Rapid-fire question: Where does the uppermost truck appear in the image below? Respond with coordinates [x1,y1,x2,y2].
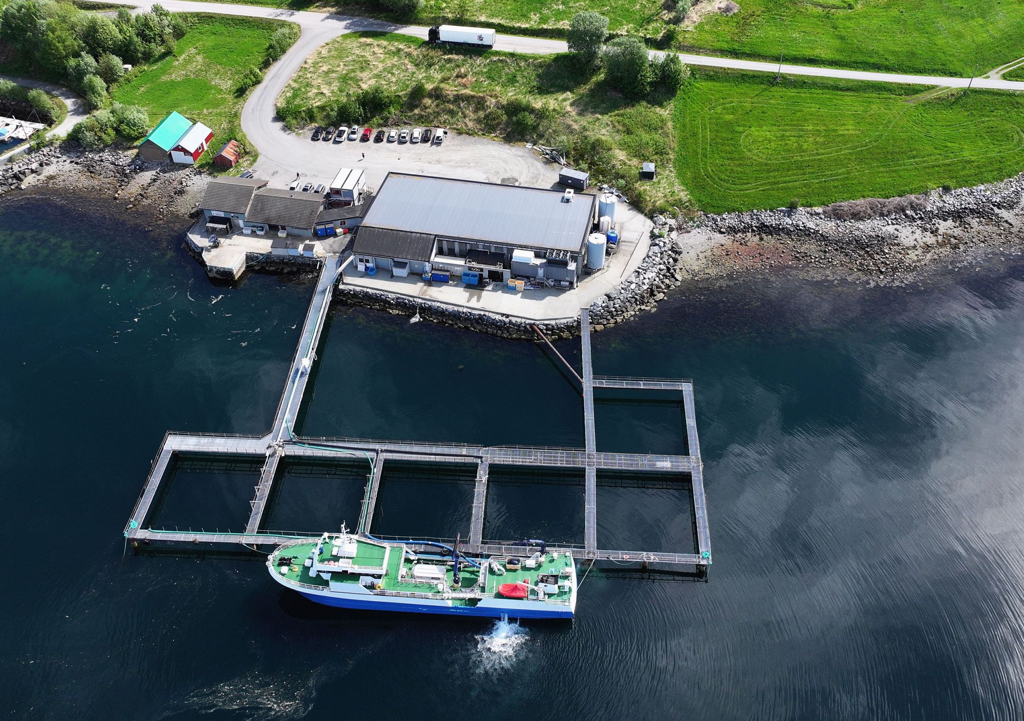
[429,26,495,50]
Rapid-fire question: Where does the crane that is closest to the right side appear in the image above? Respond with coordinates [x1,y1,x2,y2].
[485,538,549,564]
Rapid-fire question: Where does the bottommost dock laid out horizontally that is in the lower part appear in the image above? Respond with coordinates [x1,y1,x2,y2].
[122,375,713,570]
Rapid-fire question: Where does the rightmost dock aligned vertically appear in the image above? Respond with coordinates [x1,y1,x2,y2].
[579,309,597,559]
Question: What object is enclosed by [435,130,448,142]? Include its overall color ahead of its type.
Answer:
white vehicle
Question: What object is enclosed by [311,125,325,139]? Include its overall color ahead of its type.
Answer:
black car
